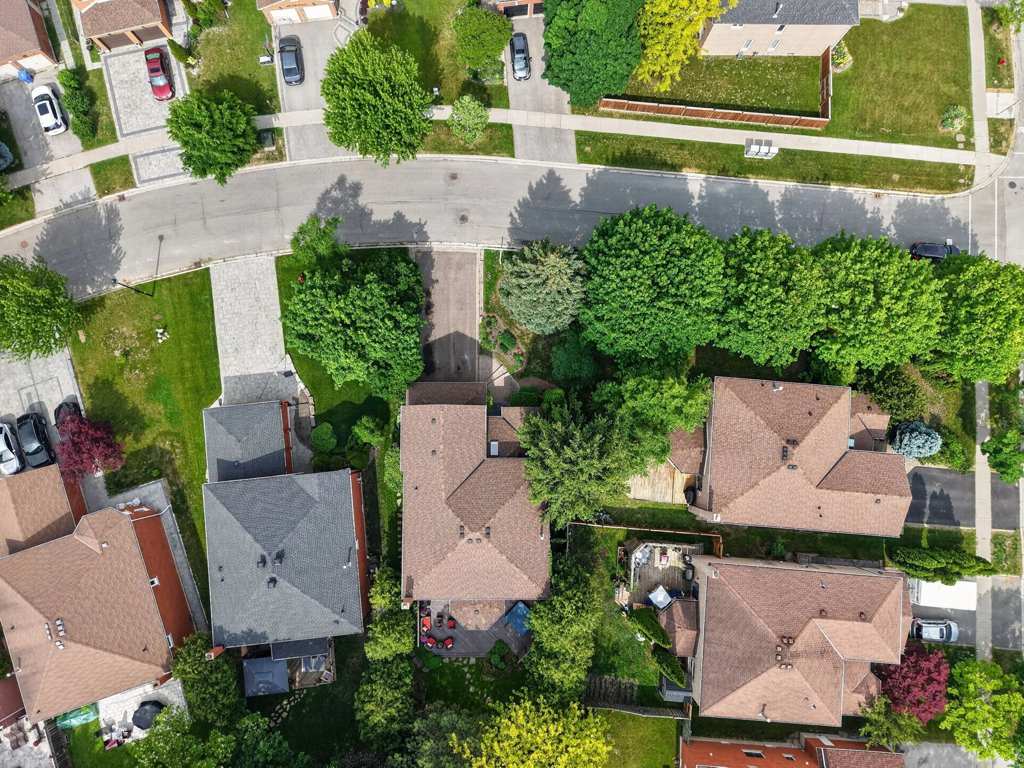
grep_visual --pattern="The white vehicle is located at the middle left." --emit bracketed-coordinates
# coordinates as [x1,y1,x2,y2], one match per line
[0,422,26,474]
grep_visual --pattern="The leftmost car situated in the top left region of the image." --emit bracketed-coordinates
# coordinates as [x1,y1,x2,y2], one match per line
[32,87,67,135]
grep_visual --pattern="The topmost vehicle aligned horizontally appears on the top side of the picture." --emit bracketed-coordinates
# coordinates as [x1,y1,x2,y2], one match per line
[909,240,959,264]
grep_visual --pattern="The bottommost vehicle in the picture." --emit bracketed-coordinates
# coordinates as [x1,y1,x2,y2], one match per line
[909,618,960,644]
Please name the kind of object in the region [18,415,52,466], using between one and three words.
car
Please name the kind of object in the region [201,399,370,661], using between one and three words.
house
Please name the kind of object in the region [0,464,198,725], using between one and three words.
house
